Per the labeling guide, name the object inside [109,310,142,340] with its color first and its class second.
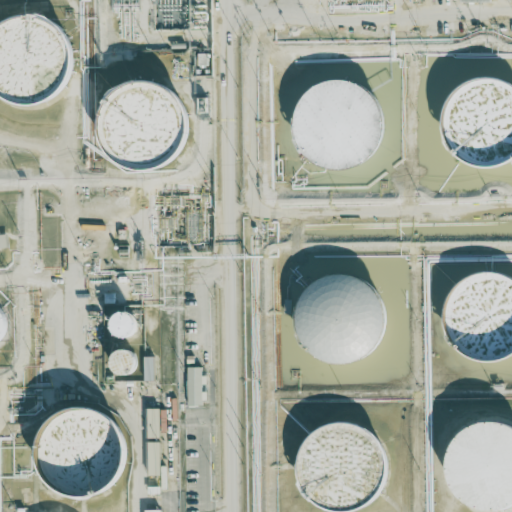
white storage tank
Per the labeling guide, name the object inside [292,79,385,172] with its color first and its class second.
white storage tank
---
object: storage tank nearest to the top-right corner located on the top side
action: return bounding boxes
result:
[438,76,512,170]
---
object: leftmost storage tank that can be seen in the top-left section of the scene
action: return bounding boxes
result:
[0,10,74,107]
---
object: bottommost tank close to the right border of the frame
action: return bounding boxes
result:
[442,419,512,512]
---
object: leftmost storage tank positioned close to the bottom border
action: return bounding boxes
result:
[32,404,129,498]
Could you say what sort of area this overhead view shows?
industrial area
